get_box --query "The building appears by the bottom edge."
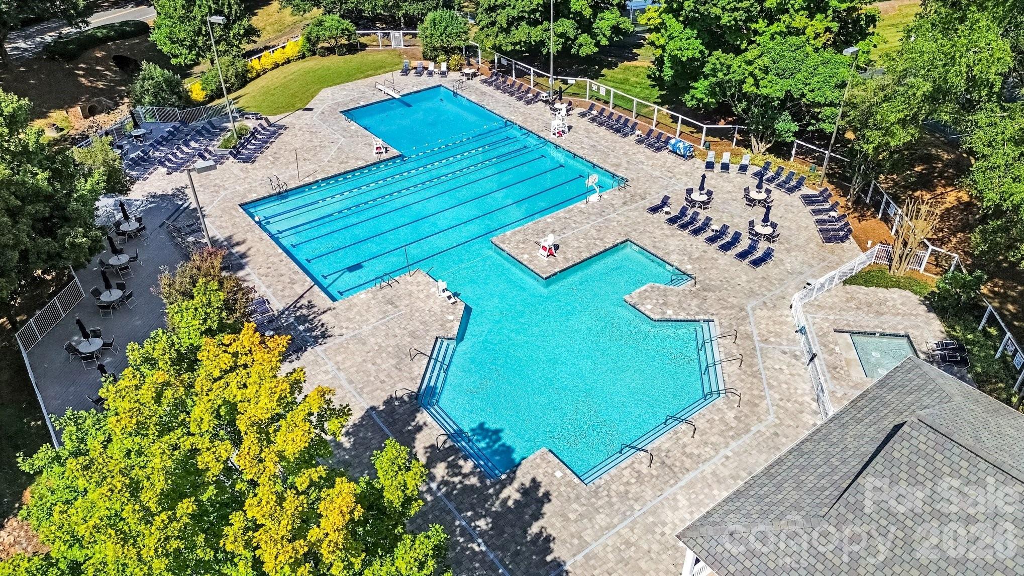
[672,352,1024,576]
